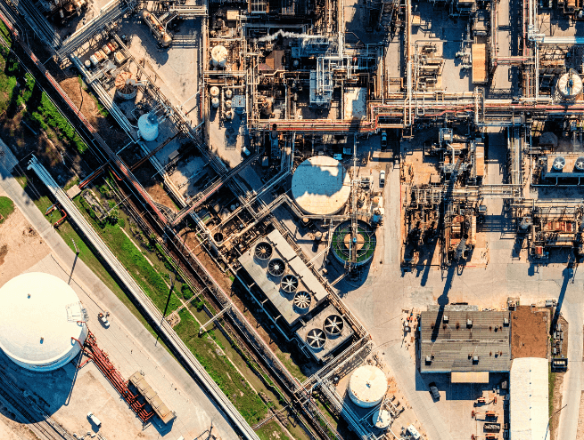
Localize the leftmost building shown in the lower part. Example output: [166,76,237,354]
[419,312,511,375]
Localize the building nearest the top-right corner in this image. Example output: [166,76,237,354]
[470,43,486,91]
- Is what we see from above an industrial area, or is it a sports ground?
industrial area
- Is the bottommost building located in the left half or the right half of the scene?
right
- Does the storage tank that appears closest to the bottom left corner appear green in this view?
No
